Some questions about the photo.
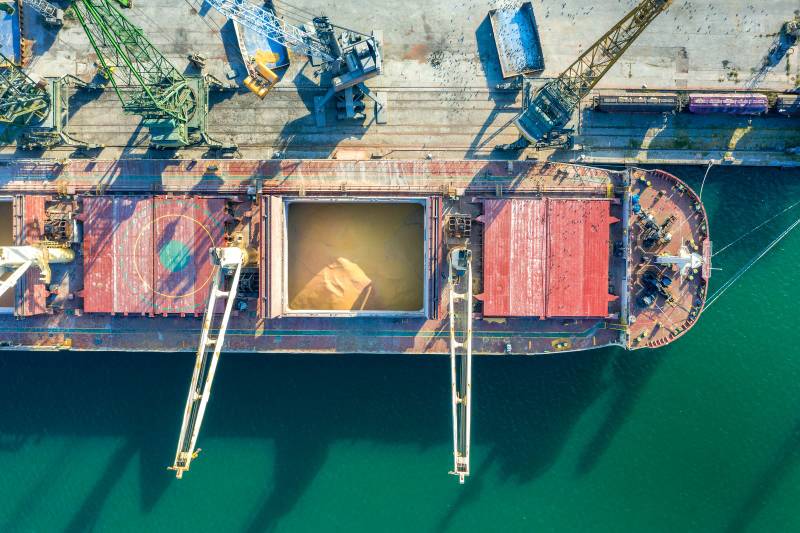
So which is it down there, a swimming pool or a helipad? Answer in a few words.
helipad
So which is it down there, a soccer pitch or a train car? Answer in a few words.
train car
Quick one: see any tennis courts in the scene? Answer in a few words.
No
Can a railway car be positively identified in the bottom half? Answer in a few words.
No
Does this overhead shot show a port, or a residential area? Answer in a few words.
port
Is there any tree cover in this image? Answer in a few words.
No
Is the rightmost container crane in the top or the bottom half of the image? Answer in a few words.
top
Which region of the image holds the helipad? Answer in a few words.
left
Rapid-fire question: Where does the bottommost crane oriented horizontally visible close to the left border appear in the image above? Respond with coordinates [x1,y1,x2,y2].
[0,235,81,274]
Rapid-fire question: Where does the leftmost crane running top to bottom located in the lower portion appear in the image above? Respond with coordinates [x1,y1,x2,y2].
[167,238,262,476]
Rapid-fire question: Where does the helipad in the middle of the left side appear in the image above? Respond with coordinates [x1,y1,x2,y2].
[117,199,229,313]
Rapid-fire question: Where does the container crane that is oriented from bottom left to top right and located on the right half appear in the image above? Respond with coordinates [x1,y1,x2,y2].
[480,0,675,152]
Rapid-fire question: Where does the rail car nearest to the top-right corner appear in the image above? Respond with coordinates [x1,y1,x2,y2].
[764,92,800,114]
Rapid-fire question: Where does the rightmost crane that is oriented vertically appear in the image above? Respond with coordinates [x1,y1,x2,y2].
[441,240,473,482]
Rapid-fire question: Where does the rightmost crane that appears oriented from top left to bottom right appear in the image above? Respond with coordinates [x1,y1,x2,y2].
[181,0,388,127]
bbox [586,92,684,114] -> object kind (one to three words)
rail car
